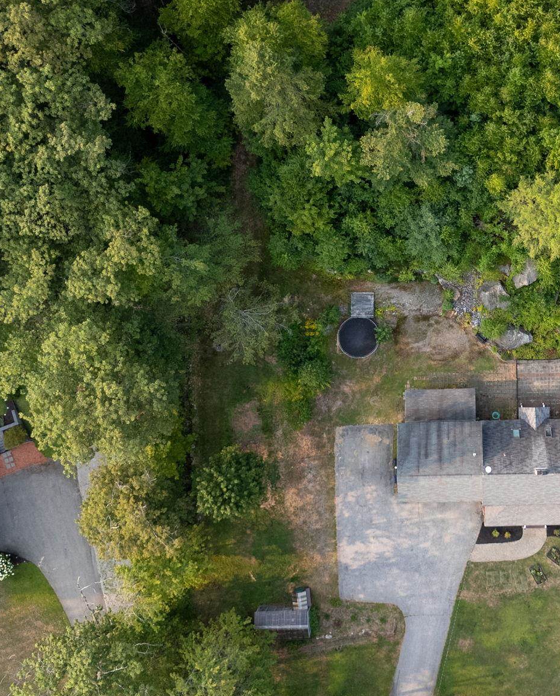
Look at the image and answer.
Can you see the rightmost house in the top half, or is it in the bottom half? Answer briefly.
bottom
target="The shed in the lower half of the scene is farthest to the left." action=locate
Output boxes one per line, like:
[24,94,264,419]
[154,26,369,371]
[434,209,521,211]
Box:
[254,600,312,638]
